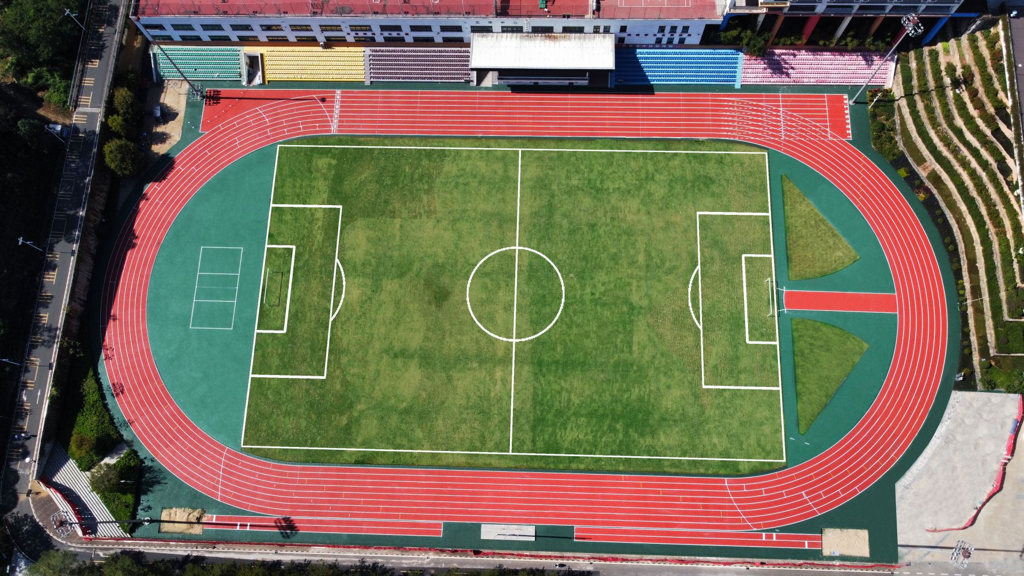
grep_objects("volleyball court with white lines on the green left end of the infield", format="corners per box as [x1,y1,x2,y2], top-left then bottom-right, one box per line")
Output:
[190,247,243,329]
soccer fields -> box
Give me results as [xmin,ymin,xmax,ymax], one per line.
[241,137,788,474]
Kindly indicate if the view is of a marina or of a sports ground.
sports ground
